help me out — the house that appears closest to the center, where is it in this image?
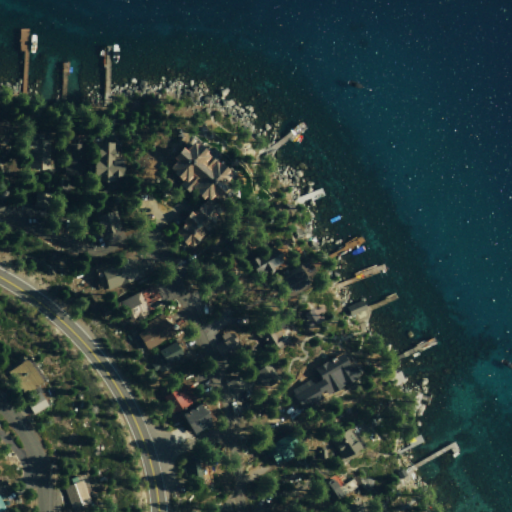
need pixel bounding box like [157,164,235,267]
[254,252,286,274]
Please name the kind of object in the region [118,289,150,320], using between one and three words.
house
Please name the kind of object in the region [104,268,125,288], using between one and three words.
house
